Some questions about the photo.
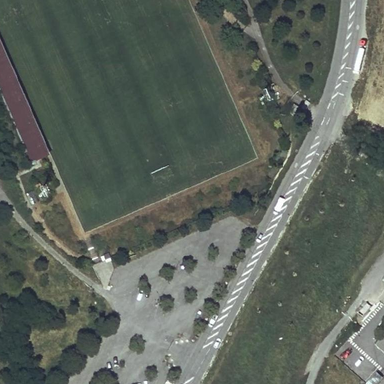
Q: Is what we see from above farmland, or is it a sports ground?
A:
sports ground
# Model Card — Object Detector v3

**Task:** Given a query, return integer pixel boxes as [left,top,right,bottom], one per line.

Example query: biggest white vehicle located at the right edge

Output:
[354,40,367,72]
